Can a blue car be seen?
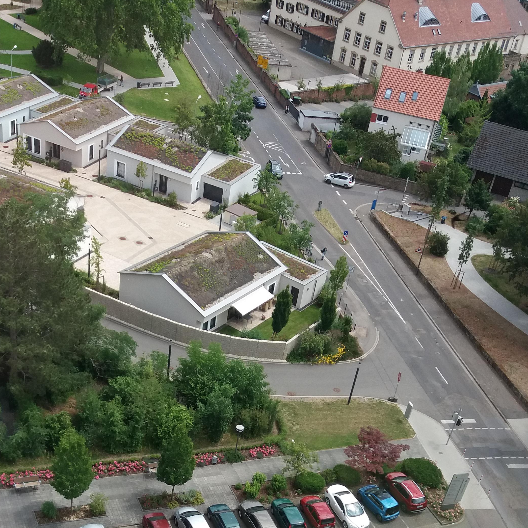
Yes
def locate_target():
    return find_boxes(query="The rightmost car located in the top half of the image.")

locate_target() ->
[324,172,357,191]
